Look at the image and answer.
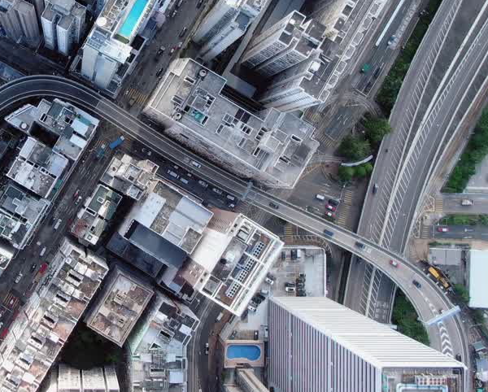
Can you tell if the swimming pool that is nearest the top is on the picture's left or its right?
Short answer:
left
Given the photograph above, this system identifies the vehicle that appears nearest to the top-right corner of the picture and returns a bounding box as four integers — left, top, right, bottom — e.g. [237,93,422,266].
[385,32,401,49]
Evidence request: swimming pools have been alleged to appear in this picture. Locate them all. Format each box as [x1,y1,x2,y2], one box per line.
[228,345,261,361]
[119,0,146,38]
